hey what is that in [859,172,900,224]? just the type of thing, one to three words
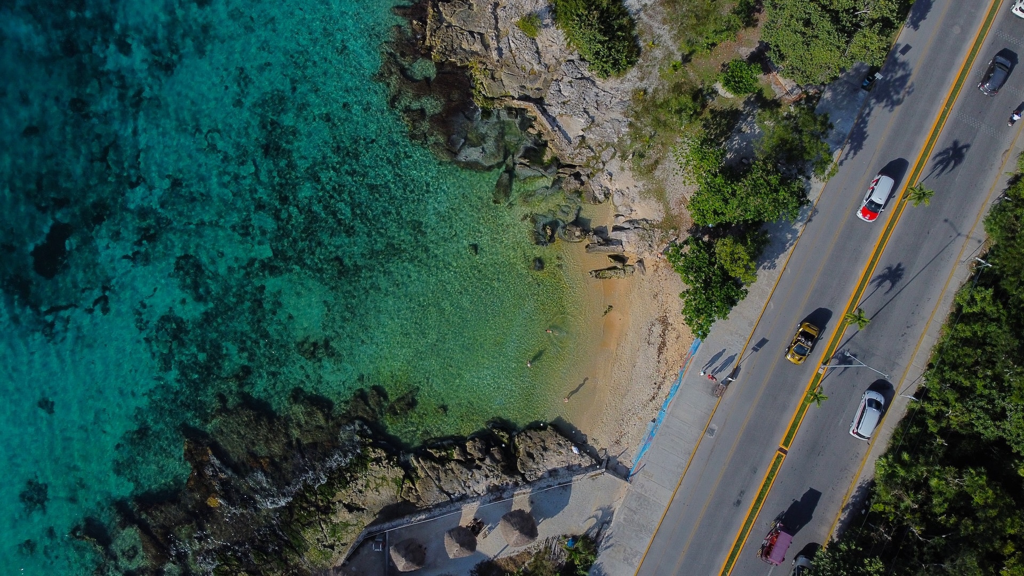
vehicle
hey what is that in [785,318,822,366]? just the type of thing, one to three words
car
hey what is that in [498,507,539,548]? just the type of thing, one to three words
umbrella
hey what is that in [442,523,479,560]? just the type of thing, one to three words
umbrella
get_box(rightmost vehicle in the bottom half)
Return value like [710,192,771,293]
[850,393,886,444]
